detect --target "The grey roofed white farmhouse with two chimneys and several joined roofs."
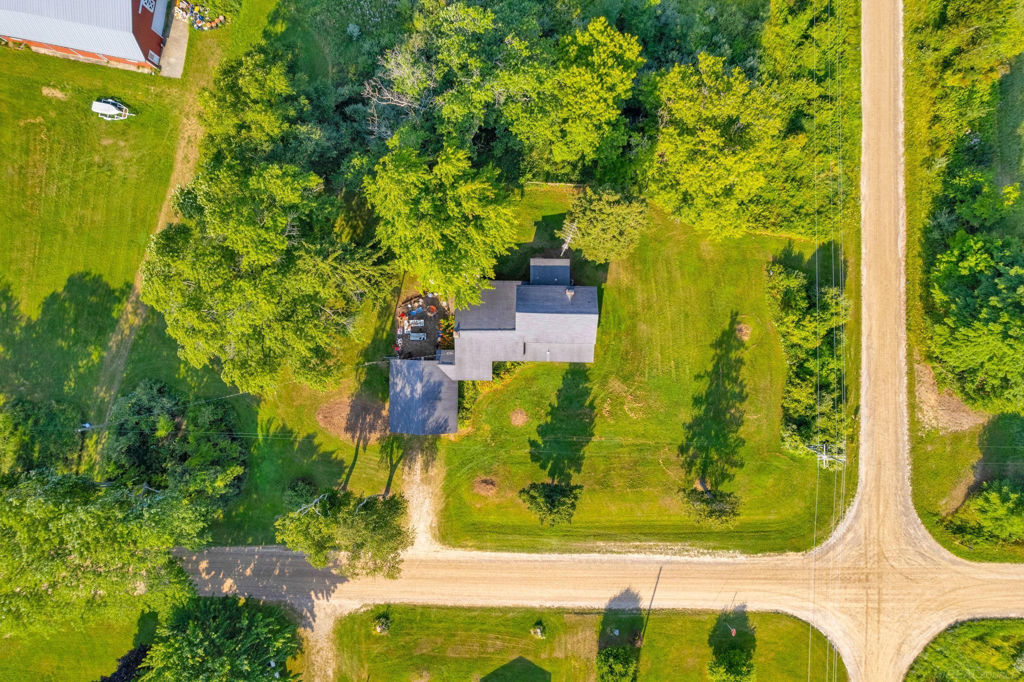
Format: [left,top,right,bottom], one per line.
[437,258,600,380]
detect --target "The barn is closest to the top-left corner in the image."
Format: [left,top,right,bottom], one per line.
[0,0,172,73]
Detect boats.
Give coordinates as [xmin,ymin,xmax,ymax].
[87,98,119,113]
